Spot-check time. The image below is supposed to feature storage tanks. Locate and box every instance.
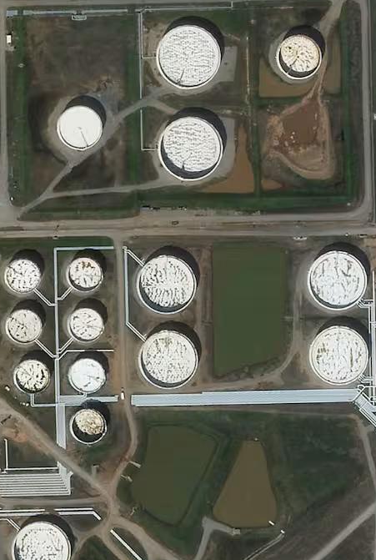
[158,115,224,181]
[309,324,369,384]
[66,255,105,293]
[6,258,42,294]
[6,307,43,343]
[14,358,51,395]
[139,327,199,389]
[308,250,368,310]
[277,34,324,80]
[71,407,107,444]
[156,24,222,90]
[57,105,104,152]
[68,307,105,343]
[13,521,72,560]
[70,357,107,393]
[137,253,197,314]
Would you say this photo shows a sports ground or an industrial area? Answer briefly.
industrial area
